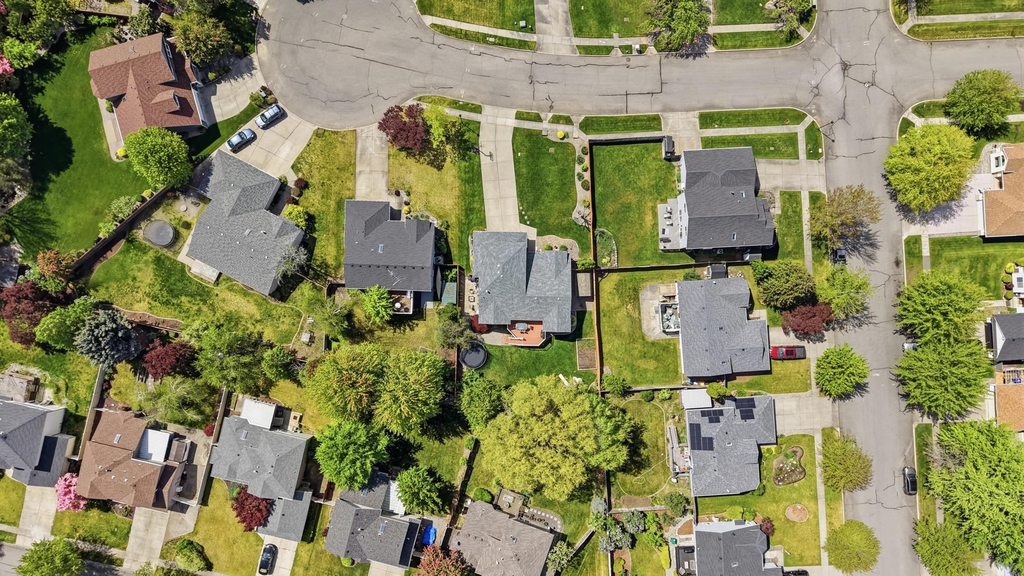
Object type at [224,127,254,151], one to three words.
car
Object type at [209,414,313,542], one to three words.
house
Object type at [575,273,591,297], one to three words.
shed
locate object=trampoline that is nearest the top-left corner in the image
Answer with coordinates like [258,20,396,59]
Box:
[144,218,174,248]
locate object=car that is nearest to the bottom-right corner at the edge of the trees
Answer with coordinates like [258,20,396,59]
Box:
[902,466,920,497]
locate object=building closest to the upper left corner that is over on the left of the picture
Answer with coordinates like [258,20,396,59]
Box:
[87,33,205,143]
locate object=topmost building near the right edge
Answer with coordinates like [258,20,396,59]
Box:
[974,145,1024,238]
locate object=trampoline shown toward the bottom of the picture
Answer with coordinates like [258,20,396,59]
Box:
[459,341,488,370]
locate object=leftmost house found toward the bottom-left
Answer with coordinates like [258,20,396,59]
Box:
[0,391,75,488]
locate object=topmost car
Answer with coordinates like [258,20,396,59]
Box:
[252,102,284,129]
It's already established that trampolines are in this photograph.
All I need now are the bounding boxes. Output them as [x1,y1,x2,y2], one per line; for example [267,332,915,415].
[144,218,174,248]
[459,341,488,370]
